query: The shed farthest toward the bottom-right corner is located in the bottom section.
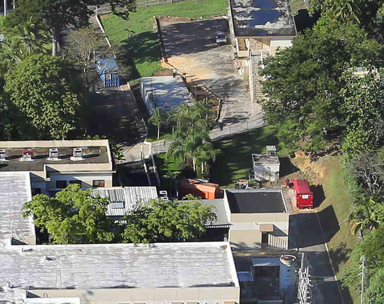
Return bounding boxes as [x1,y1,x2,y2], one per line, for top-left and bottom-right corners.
[252,267,276,299]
